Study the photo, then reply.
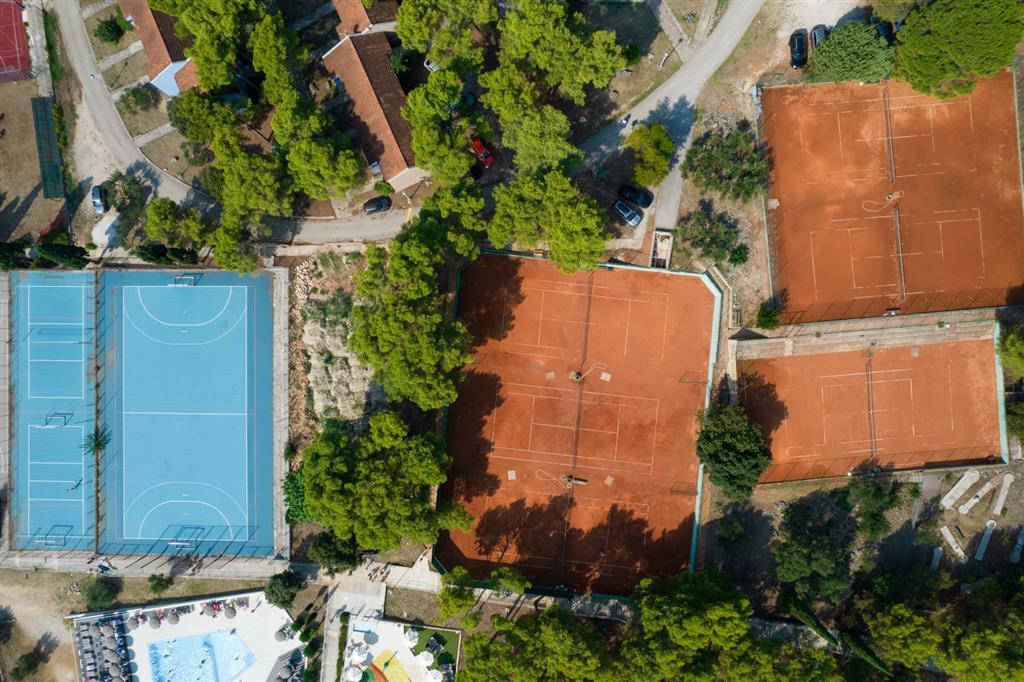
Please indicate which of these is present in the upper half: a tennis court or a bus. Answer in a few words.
tennis court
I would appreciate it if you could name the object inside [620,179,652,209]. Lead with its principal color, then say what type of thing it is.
black car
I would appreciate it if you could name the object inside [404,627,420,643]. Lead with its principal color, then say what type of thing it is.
white umbrella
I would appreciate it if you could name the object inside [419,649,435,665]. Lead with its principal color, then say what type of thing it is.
white umbrella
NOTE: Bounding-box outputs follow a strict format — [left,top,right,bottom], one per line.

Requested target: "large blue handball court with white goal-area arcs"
[98,271,274,557]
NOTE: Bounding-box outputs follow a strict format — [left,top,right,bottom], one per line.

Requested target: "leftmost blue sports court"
[10,270,95,552]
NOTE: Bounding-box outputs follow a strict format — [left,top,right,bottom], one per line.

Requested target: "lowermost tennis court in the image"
[434,453,703,597]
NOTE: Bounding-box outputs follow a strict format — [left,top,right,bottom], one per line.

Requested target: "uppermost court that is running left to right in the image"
[765,68,1022,206]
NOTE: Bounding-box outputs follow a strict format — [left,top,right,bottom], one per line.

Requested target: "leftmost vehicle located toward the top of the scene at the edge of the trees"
[87,183,106,213]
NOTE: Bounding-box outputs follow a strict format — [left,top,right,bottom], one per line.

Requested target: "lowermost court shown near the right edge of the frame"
[738,340,1004,484]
